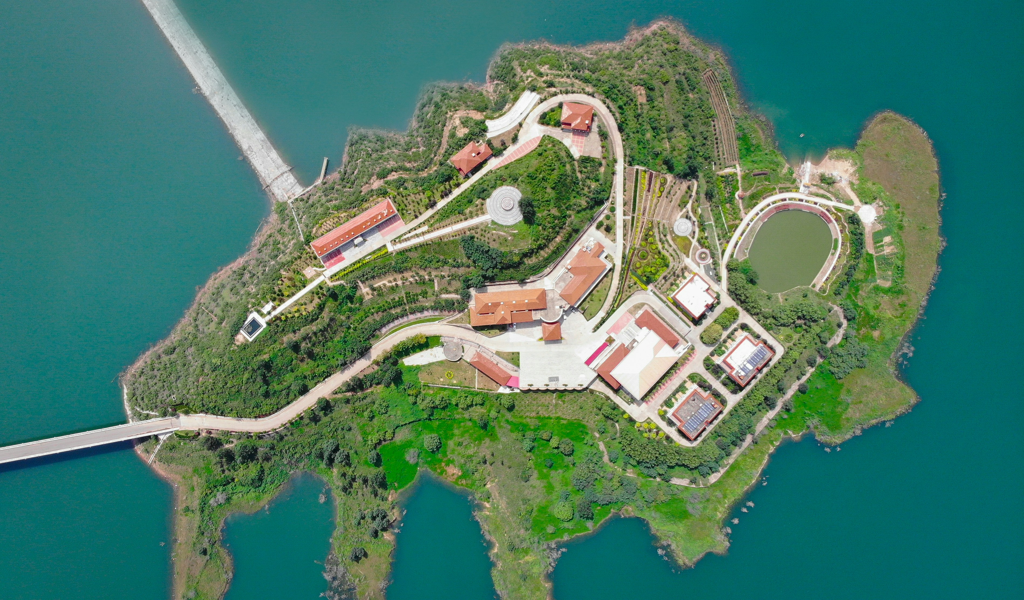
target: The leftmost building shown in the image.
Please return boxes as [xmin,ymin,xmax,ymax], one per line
[310,198,397,257]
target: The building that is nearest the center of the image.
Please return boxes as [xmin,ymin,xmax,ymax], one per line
[470,288,570,326]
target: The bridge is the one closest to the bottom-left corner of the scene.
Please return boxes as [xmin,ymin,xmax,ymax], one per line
[0,416,179,463]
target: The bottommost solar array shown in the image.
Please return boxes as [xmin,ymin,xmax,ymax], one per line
[683,403,714,434]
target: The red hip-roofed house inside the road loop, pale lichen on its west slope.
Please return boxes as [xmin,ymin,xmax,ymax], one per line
[561,102,593,132]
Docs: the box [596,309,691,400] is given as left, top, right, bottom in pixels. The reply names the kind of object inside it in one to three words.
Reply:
building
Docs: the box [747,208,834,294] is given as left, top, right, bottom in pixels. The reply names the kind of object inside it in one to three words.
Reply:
pond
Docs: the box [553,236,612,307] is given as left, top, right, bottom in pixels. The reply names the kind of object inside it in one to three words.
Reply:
building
